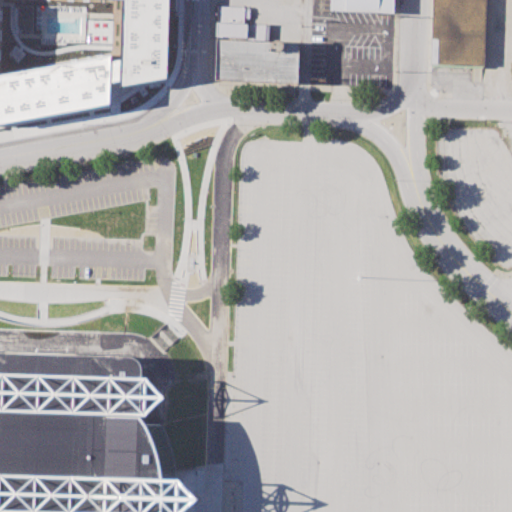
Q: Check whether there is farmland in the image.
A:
No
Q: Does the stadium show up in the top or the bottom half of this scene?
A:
bottom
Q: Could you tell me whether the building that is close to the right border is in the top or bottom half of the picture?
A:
top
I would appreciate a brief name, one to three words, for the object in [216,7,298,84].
building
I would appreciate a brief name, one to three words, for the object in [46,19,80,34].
swimming pool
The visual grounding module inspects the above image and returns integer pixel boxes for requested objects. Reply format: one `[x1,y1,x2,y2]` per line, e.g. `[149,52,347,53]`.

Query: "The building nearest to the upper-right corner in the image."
[432,0,486,68]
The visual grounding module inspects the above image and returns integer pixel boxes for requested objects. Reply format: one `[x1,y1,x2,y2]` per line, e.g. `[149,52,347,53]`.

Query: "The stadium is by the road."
[0,352,197,512]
